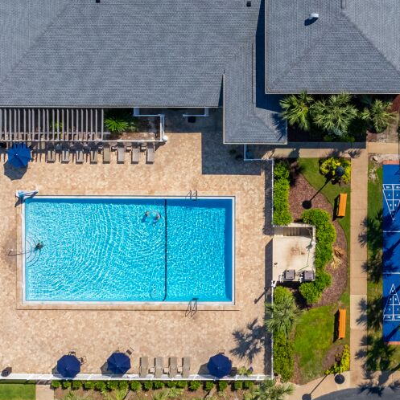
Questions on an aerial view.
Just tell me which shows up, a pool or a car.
pool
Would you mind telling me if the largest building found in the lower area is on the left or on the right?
right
